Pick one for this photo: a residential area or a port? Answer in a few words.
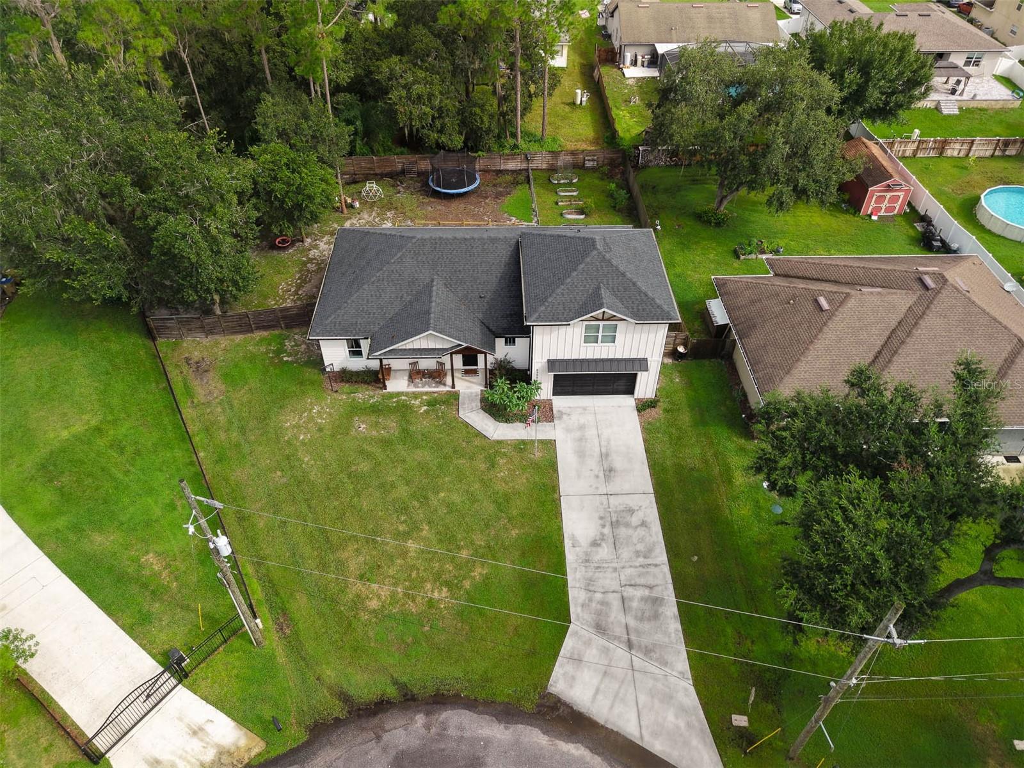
residential area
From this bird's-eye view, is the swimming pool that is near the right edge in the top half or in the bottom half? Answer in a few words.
top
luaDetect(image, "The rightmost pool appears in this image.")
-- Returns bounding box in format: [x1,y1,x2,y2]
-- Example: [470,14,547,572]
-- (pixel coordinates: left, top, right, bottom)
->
[974,186,1024,243]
